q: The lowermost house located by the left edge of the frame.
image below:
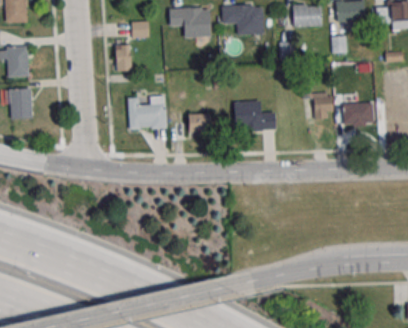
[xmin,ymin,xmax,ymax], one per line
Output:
[10,88,32,120]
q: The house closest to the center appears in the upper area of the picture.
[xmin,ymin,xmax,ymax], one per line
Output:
[189,114,214,134]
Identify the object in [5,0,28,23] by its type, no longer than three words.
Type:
house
